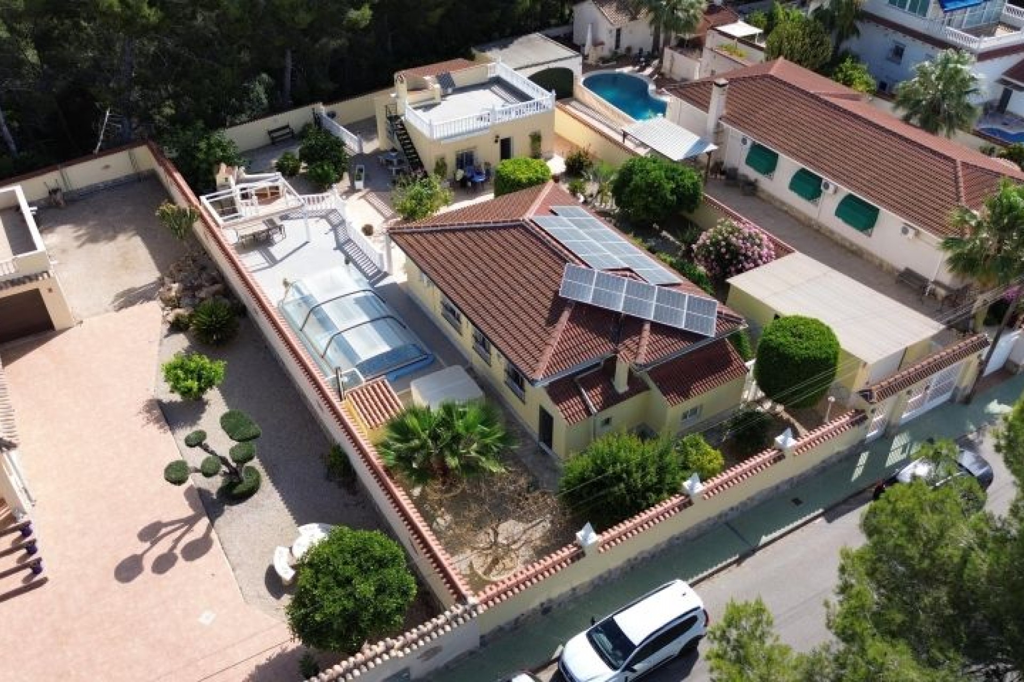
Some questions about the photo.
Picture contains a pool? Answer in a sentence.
Yes, this view includes a pool.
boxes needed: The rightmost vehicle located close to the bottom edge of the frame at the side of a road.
[555,588,713,682]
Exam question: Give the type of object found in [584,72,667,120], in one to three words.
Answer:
swimming pool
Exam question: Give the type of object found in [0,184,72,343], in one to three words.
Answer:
building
